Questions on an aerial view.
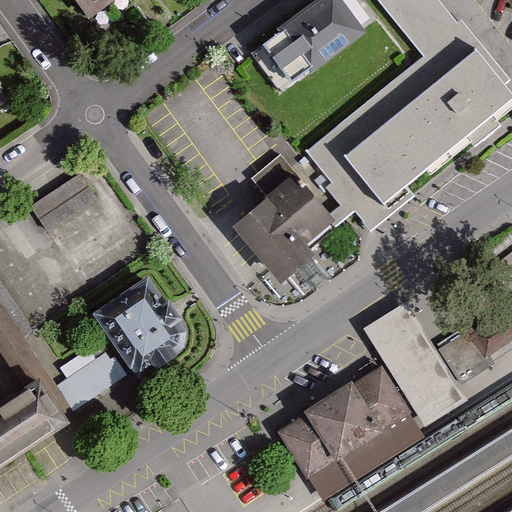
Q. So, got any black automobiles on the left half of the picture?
Yes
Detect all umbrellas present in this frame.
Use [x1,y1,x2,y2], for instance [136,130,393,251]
[114,0,130,11]
[95,11,110,26]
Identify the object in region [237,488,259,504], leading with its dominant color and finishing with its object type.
red car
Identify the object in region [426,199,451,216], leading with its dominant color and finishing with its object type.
white car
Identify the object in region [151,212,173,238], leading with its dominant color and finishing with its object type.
white vehicle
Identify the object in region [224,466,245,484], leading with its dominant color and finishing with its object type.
red car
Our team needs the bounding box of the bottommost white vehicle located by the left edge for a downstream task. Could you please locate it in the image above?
[2,146,26,164]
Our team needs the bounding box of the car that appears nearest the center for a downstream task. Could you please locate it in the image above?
[168,236,189,260]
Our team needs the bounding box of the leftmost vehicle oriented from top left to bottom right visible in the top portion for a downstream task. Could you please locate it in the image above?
[34,50,51,70]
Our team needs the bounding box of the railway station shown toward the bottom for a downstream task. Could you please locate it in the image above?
[278,366,425,502]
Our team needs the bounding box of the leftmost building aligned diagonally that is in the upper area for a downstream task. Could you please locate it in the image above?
[34,177,96,230]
